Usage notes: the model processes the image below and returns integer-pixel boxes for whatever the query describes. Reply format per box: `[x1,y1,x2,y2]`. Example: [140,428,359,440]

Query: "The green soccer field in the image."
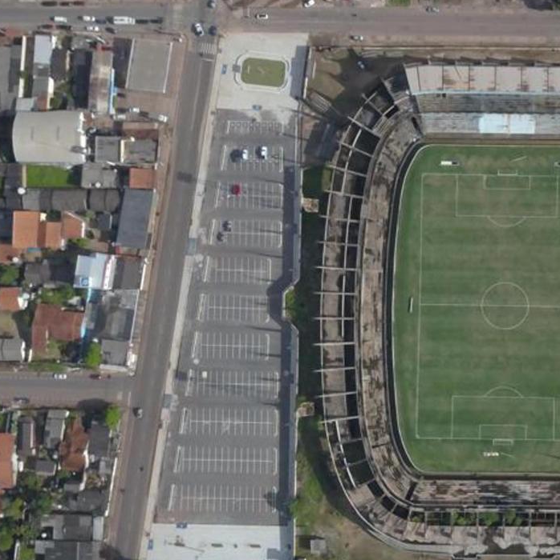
[391,141,560,478]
